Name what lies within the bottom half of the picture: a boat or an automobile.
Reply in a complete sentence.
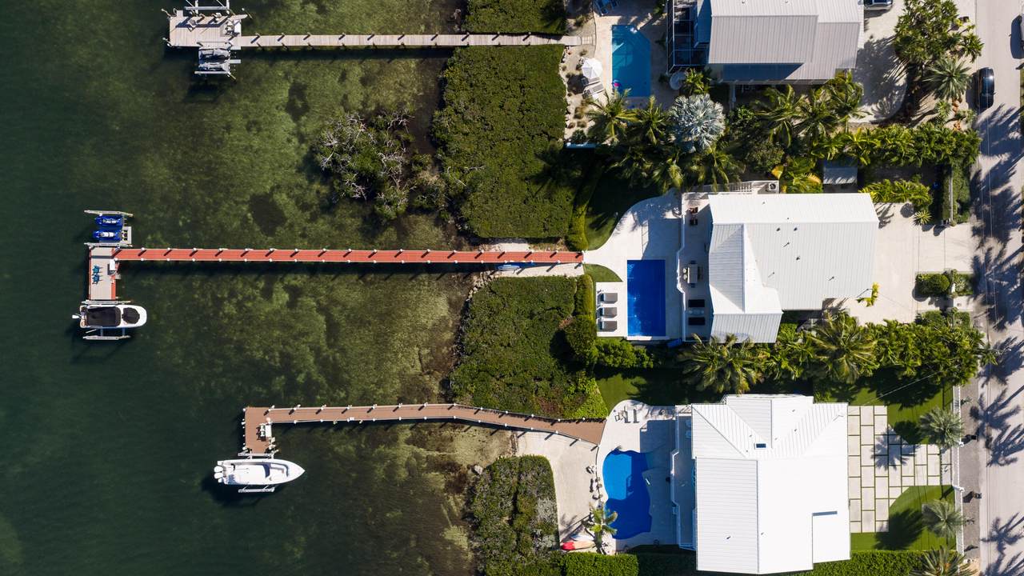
There is a boat within the bottom half of the picture.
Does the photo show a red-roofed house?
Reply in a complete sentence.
No, there isn't any red-roofed house down there.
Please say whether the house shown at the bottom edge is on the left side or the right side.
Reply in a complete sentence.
The house shown at the bottom edge is on the right side of the image.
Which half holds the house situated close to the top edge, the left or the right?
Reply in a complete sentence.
The house situated close to the top edge sits on the right side.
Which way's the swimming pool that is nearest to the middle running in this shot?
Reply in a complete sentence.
In this picture, the swimming pool that is nearest to the middle lies from top to bottom.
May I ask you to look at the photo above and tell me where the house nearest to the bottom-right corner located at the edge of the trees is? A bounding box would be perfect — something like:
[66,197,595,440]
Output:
[672,392,850,575]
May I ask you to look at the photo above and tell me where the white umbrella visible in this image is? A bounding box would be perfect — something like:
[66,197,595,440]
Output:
[580,58,602,81]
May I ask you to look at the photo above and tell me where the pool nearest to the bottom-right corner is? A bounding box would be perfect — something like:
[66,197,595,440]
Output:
[604,450,653,541]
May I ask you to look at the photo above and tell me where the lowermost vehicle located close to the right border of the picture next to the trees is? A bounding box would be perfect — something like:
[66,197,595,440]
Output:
[971,67,997,111]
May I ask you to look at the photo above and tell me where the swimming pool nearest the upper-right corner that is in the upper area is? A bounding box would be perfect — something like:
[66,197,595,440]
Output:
[613,24,651,96]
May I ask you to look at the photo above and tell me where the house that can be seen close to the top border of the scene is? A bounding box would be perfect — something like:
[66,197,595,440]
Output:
[668,0,862,94]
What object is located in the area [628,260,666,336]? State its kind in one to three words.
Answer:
swimming pool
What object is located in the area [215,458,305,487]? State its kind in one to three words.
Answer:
boat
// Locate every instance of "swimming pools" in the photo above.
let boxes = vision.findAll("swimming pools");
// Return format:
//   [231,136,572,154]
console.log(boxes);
[604,450,653,541]
[613,24,651,96]
[628,260,666,336]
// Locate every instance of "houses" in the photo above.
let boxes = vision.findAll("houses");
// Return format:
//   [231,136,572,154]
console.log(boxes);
[677,181,879,344]
[668,0,862,94]
[672,392,850,575]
